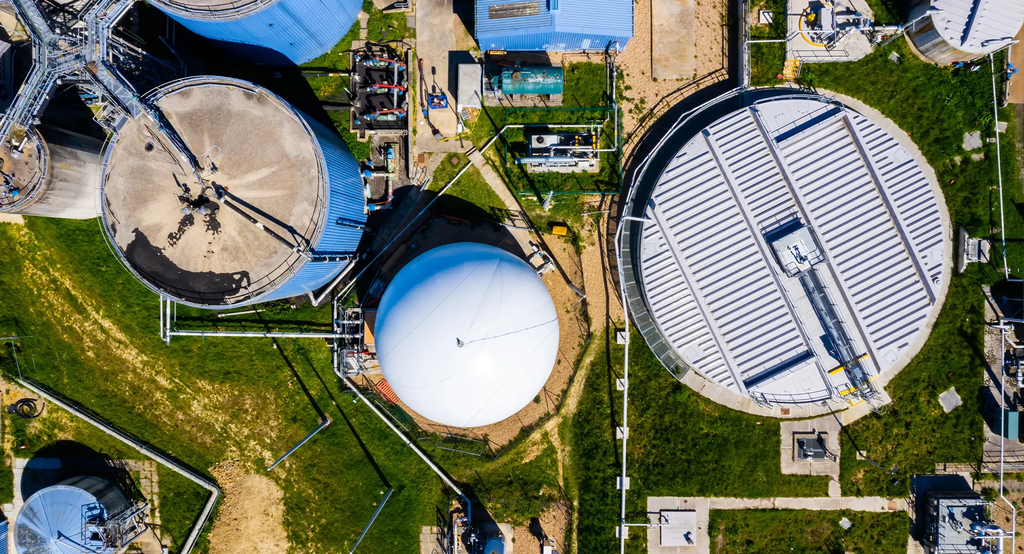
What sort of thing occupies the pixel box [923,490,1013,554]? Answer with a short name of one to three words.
building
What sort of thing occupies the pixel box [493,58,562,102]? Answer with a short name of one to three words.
storage tank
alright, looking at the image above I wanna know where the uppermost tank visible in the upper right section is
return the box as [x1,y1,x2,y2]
[902,0,1024,68]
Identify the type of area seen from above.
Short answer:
industrial area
